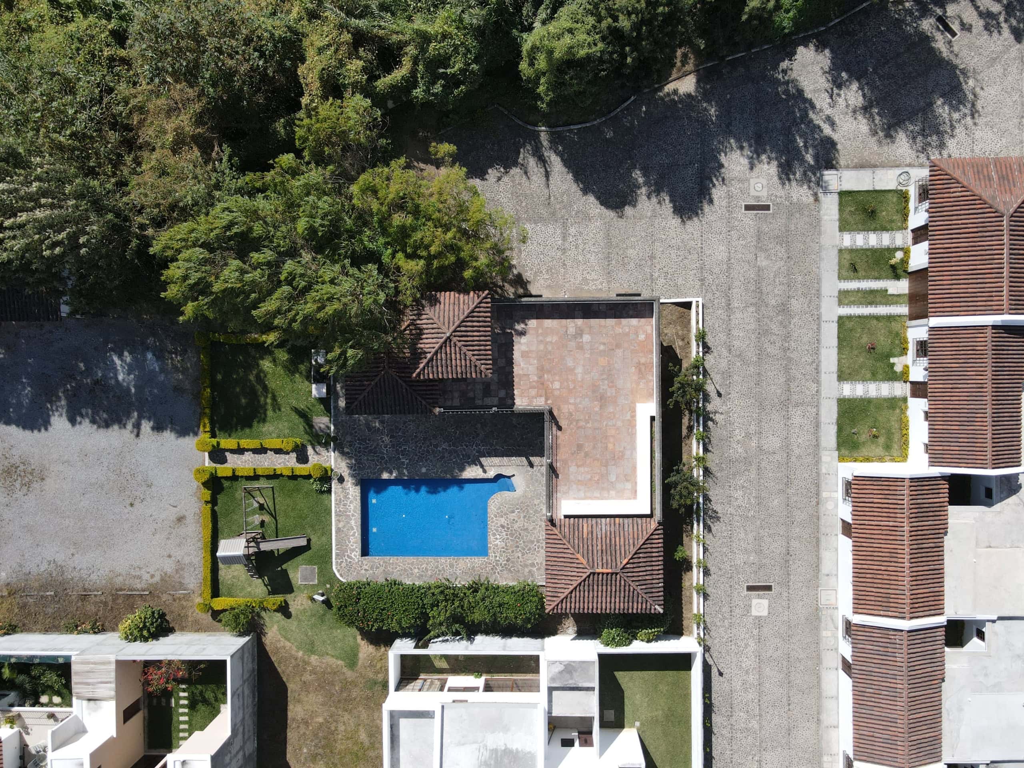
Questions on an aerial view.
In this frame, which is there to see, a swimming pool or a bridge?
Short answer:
swimming pool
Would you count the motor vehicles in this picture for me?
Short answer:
zero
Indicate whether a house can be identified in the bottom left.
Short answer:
Yes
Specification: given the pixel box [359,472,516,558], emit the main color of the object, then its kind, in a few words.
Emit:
blue swimming pool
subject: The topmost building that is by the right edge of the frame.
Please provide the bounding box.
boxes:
[903,153,1024,332]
